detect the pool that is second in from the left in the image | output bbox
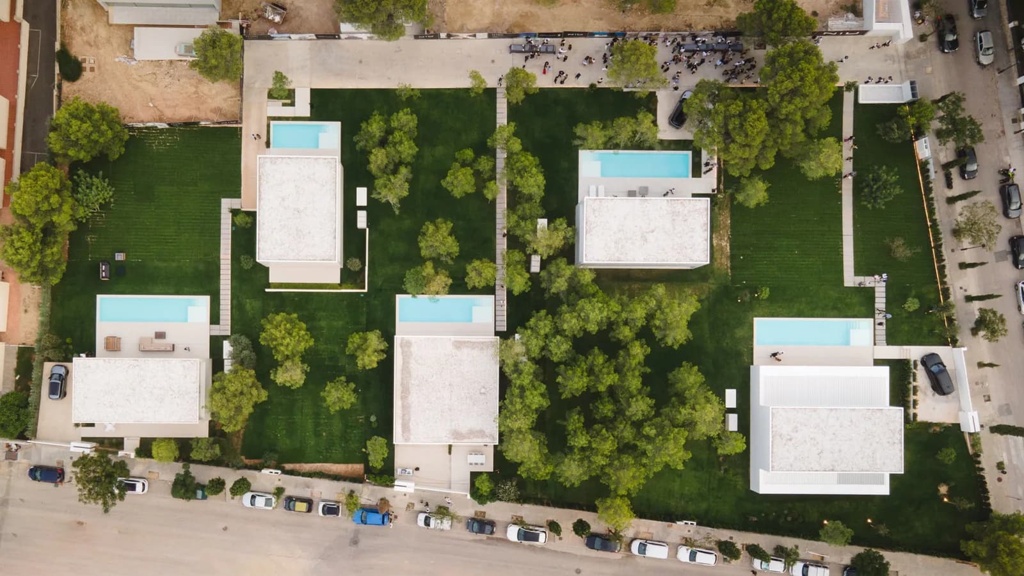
[271,122,341,156]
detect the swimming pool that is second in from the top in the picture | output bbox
[578,150,692,199]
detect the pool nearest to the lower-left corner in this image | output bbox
[97,295,210,357]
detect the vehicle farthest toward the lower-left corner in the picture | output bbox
[29,466,66,483]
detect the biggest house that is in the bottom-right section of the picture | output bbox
[749,365,903,494]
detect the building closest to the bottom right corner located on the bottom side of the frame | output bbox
[948,410,980,431]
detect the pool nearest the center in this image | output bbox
[396,295,495,336]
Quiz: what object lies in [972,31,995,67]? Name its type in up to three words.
car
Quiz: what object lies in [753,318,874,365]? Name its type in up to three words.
swimming pool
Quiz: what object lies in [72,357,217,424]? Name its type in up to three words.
house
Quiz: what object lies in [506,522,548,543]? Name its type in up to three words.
car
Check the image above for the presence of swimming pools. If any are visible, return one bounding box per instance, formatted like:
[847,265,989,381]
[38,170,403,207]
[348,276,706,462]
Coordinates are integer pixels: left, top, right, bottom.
[396,295,495,336]
[578,150,692,199]
[753,318,874,365]
[97,295,210,357]
[271,122,341,156]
